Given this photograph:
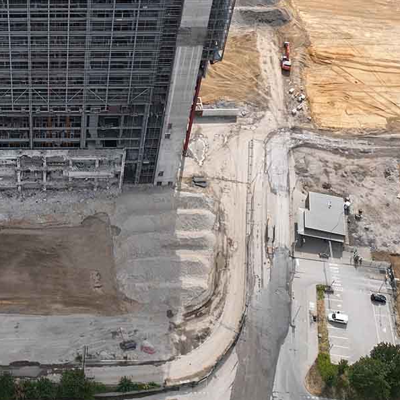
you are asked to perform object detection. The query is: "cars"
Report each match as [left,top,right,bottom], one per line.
[369,292,389,303]
[328,311,349,322]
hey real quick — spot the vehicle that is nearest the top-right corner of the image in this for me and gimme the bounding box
[278,43,295,73]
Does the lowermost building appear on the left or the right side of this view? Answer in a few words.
right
